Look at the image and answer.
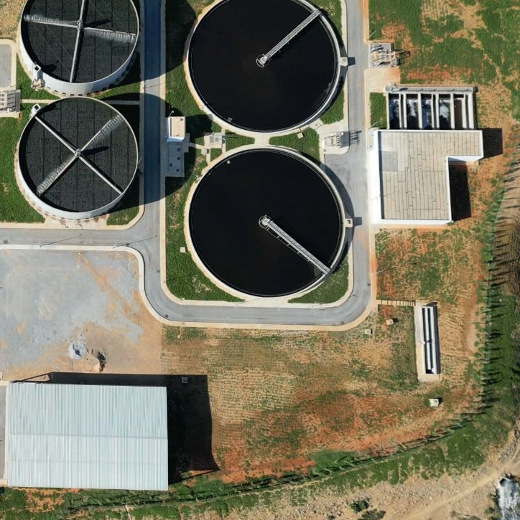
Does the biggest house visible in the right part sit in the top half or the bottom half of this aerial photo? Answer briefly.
top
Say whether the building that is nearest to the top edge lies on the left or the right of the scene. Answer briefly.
right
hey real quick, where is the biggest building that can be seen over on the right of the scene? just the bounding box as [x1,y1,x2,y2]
[369,130,483,224]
